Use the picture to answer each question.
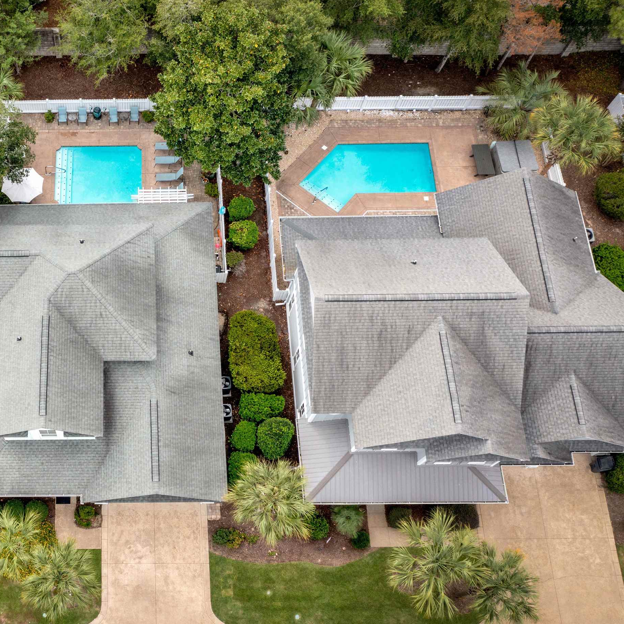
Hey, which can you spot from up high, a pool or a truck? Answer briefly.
pool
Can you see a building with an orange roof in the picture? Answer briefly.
No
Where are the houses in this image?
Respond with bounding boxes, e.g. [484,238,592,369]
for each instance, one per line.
[0,202,228,507]
[278,172,624,507]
